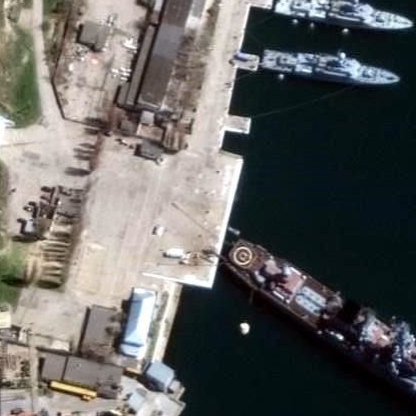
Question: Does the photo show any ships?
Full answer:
Yes, a ship can be made out from above.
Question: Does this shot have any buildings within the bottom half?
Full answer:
Yes, I can see a building within the bottom half.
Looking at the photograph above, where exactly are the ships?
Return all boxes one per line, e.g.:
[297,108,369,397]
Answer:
[260,51,400,84]
[224,239,416,394]
[273,0,413,29]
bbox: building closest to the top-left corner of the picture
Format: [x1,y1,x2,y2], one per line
[80,23,110,53]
